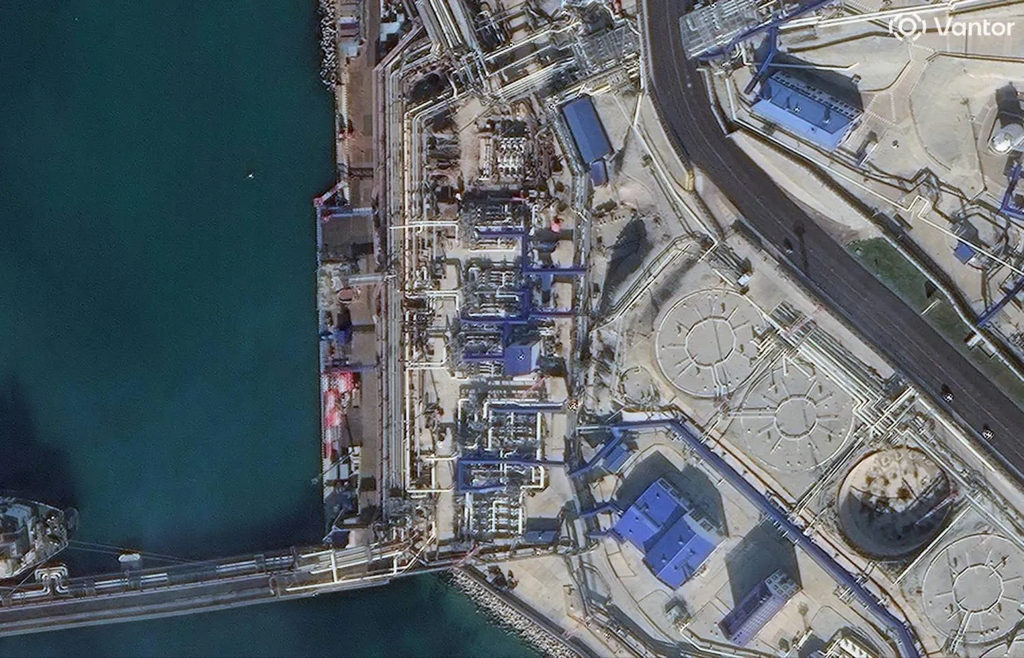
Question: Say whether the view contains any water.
Yes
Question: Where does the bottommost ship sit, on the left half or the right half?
left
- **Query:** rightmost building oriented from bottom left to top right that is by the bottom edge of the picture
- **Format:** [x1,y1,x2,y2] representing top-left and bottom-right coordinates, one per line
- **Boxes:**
[721,571,794,645]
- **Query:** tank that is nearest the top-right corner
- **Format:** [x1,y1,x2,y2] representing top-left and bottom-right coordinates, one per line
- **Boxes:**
[989,121,1024,156]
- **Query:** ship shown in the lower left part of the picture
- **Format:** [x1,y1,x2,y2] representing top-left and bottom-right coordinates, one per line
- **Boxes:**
[0,494,72,578]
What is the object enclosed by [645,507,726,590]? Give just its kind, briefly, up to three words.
building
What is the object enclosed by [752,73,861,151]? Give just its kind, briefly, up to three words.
building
